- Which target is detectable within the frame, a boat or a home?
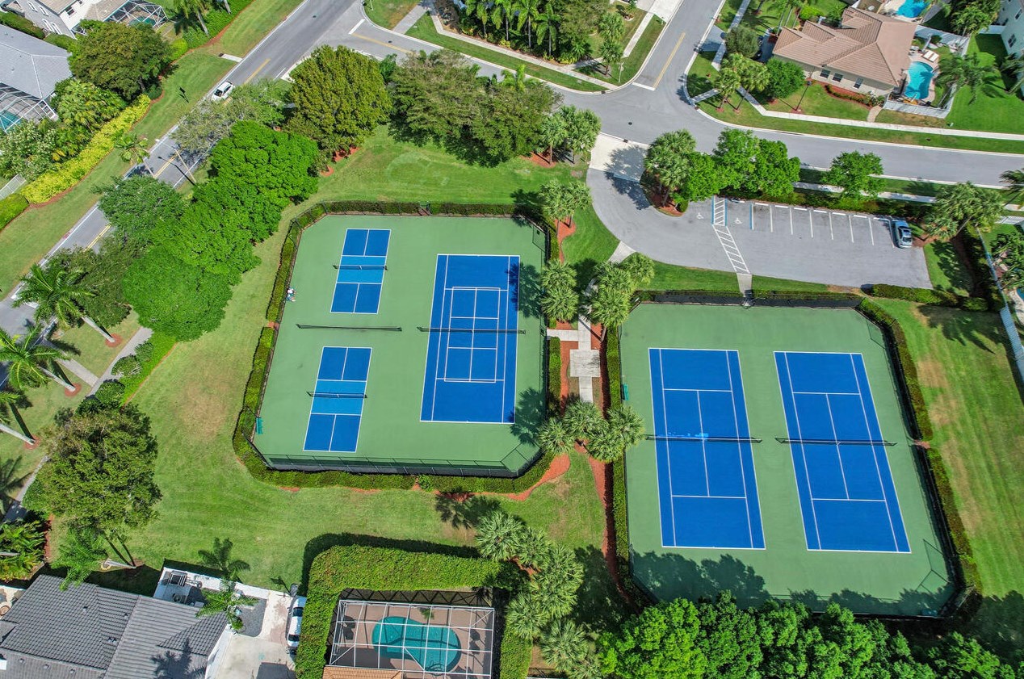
home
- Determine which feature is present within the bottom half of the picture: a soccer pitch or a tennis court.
tennis court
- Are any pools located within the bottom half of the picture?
Yes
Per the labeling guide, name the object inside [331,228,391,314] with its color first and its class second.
blue sports court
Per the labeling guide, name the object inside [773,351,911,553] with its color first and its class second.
blue tennis court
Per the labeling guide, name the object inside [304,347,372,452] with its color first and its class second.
blue sports court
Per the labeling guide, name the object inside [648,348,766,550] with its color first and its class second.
blue tennis court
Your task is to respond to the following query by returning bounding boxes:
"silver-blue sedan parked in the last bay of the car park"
[889,220,915,250]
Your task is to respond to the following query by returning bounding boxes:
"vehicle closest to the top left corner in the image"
[207,79,234,105]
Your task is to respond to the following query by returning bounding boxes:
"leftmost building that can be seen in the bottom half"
[0,575,232,679]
